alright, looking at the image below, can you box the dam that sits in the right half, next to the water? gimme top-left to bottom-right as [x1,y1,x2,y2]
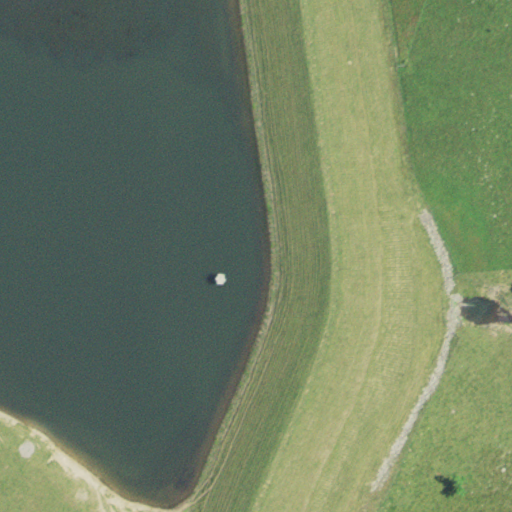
[182,0,464,512]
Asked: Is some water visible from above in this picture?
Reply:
Yes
